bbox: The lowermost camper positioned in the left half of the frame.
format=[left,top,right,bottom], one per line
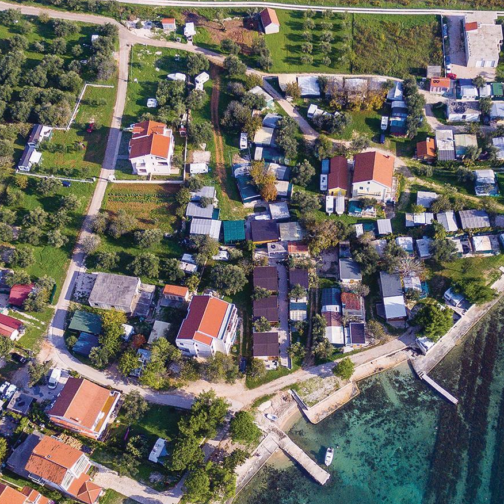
[150,438,173,465]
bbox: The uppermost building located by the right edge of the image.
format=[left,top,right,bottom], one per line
[460,12,499,75]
